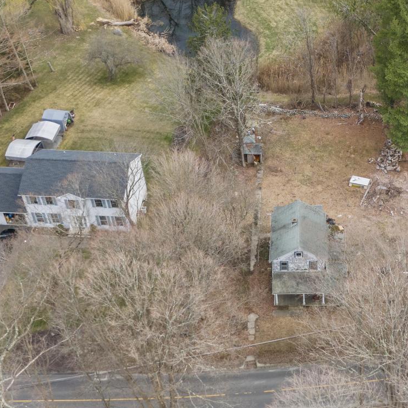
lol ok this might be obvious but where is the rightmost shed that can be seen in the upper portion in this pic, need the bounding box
[242,139,264,164]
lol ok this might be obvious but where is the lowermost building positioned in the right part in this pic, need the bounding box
[269,194,347,315]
